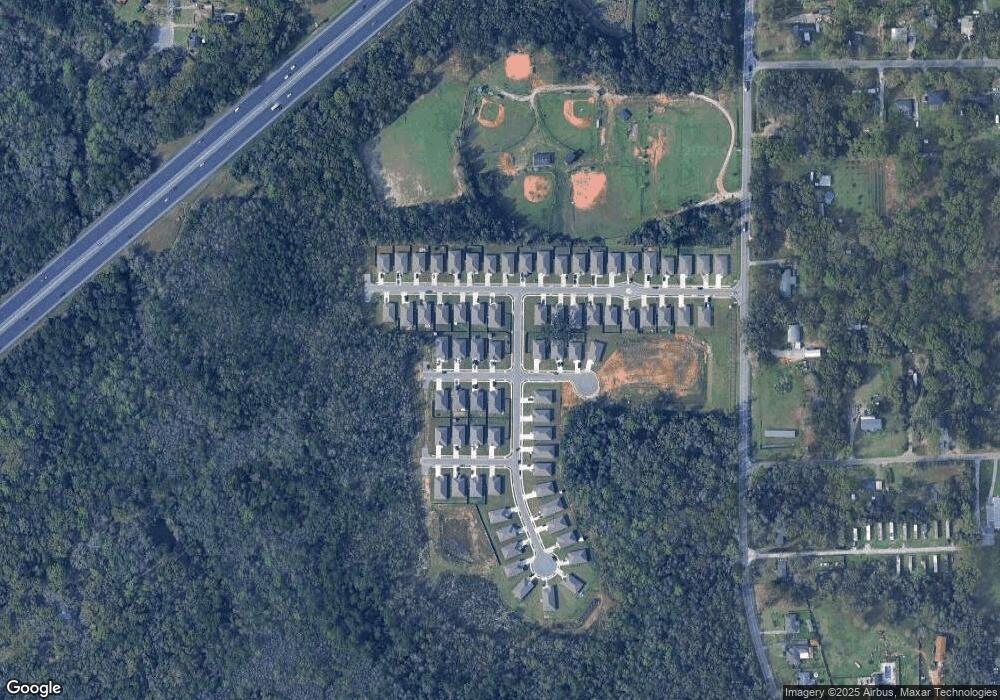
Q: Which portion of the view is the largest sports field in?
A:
top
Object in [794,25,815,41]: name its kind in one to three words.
house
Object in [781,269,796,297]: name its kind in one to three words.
house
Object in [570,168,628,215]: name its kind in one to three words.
baseball field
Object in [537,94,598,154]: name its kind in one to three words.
baseball field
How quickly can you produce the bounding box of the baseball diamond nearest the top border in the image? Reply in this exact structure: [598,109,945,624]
[493,51,535,94]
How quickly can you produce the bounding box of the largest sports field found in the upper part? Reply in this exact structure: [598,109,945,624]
[384,80,468,205]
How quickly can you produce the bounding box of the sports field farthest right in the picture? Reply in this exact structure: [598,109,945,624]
[668,103,728,197]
